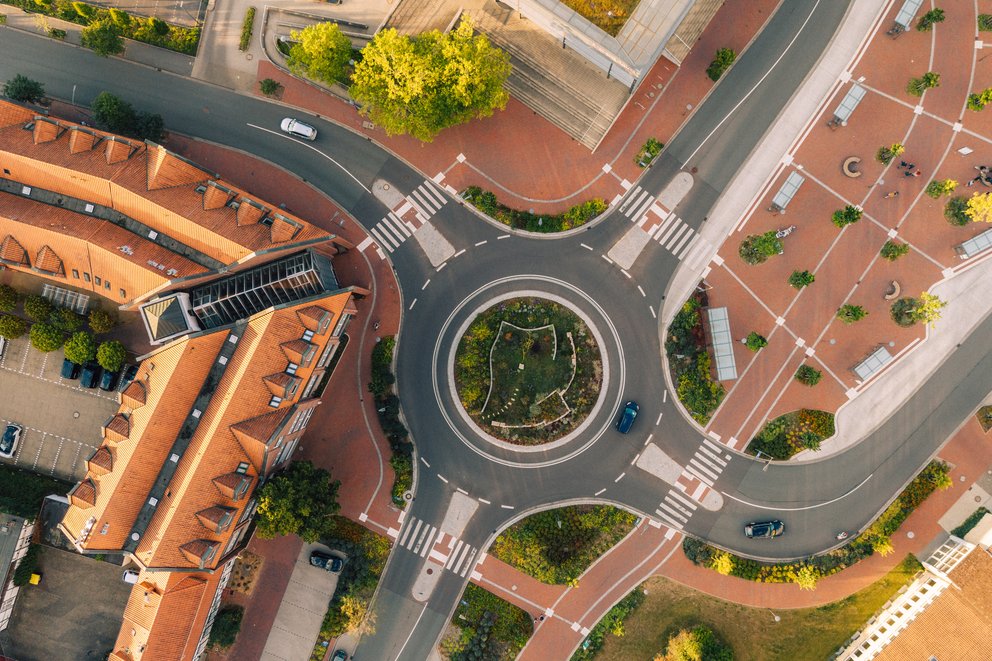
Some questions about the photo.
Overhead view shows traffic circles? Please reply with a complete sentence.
Yes, there's a traffic circle down there.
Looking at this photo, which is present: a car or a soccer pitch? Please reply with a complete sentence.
It is a car that can be seen here.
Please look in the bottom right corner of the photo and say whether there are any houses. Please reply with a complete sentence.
Yes, in the bottom right corner of the photo there is a house.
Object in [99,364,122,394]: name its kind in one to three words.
car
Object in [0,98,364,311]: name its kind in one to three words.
house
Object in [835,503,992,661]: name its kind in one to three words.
house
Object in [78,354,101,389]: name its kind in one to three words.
car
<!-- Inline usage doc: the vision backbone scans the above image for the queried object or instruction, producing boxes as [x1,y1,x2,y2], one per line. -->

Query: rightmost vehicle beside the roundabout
[744,519,783,538]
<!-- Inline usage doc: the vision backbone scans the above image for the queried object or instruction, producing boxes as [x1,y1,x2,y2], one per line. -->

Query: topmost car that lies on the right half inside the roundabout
[615,400,637,433]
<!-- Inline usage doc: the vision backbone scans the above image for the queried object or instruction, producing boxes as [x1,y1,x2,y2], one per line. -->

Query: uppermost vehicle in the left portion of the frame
[280,117,320,142]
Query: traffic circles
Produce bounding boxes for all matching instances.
[370,134,758,612]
